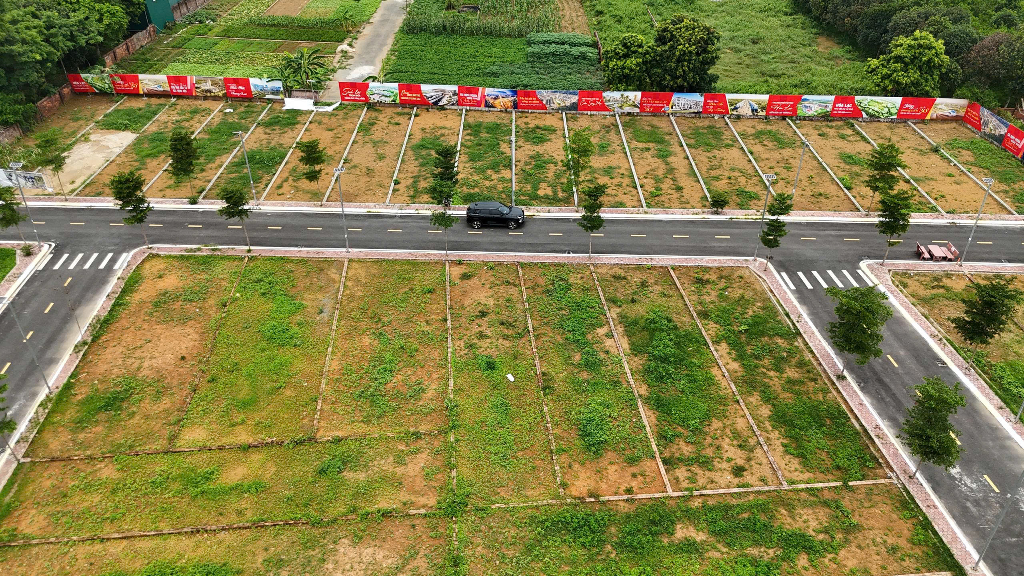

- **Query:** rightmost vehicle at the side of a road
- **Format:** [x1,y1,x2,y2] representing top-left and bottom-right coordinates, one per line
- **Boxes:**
[464,200,524,230]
